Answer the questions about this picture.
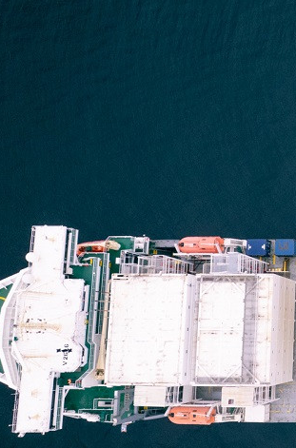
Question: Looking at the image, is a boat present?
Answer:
Yes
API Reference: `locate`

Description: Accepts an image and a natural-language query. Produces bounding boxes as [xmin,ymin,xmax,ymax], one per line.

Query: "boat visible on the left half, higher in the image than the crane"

[78,239,112,257]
